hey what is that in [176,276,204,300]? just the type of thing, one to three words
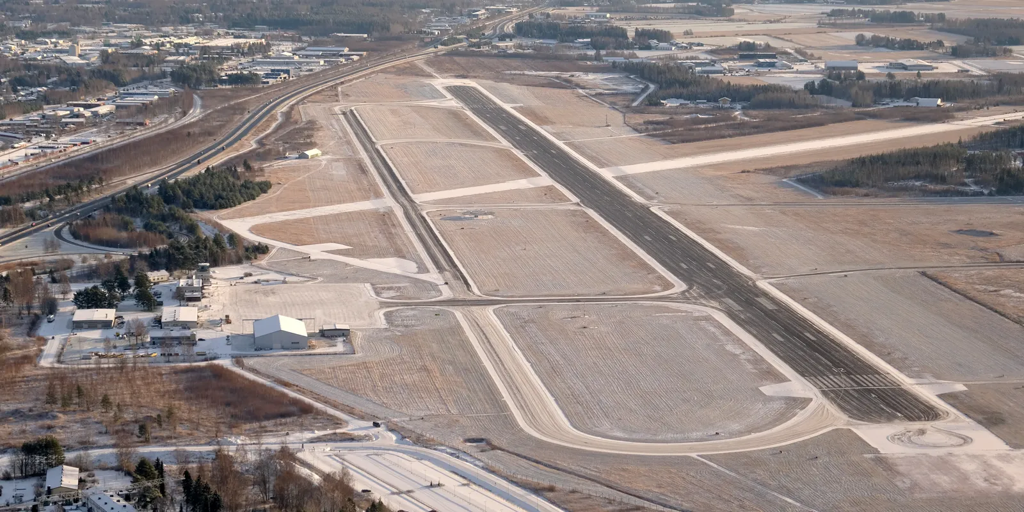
building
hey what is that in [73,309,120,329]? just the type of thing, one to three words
building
